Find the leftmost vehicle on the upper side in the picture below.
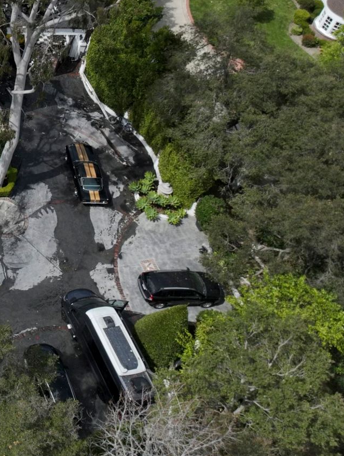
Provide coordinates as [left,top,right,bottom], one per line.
[64,143,111,206]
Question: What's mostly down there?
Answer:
trees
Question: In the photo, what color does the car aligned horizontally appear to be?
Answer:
black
